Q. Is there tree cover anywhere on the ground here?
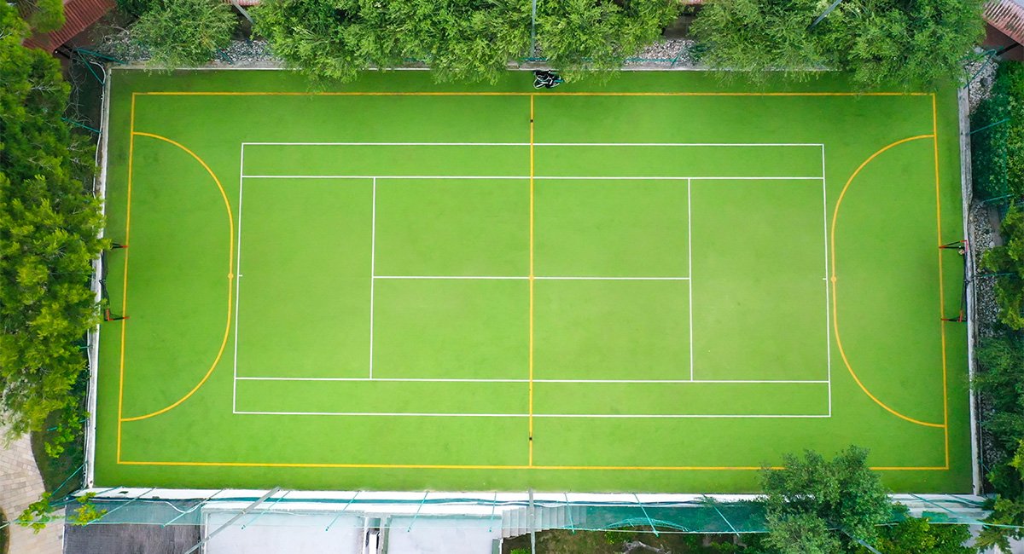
Yes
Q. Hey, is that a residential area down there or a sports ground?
sports ground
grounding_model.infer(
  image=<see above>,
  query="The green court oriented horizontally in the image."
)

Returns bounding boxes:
[94,69,973,494]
